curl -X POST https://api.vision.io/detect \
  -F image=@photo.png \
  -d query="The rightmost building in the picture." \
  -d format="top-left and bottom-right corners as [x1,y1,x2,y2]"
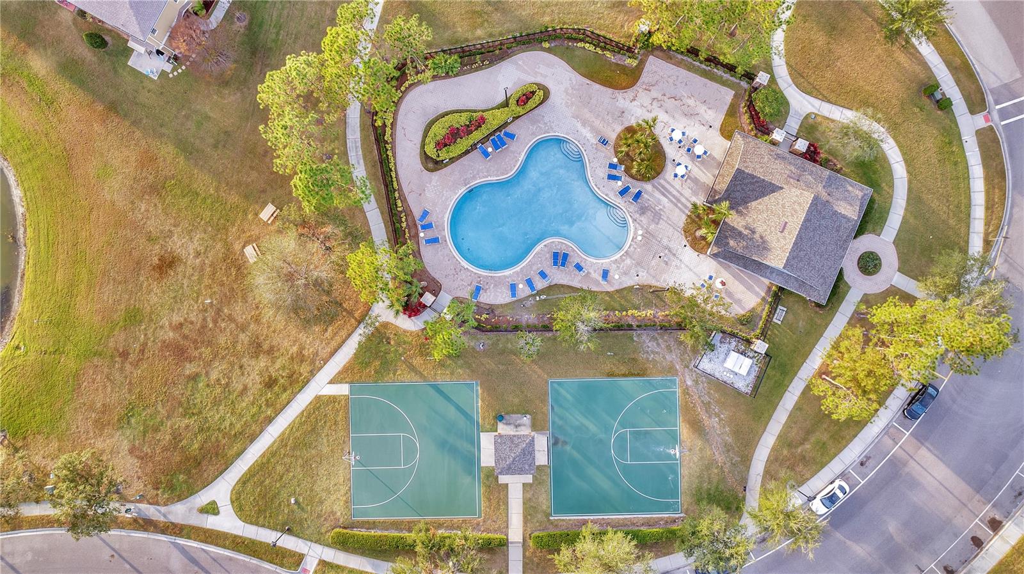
[698,130,873,304]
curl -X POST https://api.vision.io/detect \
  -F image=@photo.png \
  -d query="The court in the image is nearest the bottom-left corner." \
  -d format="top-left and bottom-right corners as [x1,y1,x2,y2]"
[349,382,482,520]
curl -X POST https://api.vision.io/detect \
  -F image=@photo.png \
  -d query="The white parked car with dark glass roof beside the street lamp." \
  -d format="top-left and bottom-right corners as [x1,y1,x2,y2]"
[811,479,852,517]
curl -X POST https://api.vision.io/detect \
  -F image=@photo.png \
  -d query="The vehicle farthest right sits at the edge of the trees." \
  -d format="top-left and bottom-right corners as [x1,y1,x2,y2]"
[905,380,942,422]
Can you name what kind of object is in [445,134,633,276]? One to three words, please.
swimming pool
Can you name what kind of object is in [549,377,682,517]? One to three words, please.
basketball court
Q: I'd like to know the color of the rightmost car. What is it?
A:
blue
